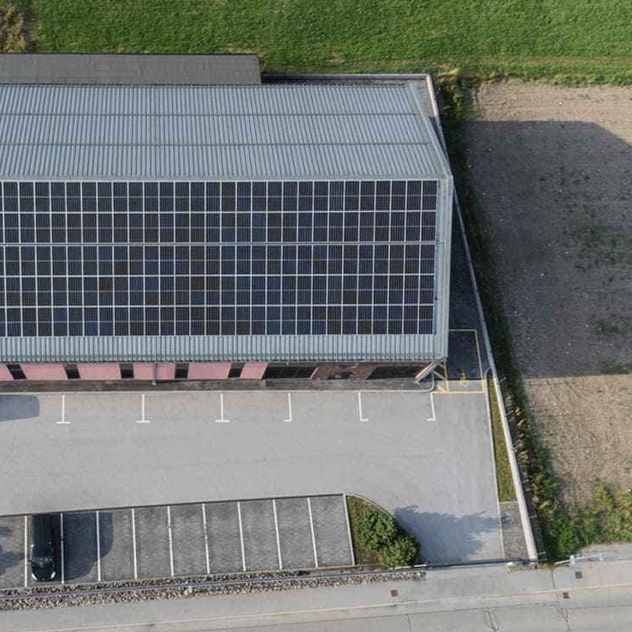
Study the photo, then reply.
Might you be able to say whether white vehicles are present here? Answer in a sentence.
No, the picture doesn't show any white vehicle.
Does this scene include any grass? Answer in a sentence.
Yes, the picture does contain grass.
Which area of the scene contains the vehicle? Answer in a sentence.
The vehicle appears toward the bottom left of the photo.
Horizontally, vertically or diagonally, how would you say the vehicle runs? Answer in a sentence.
The vehicle is laid out vertically.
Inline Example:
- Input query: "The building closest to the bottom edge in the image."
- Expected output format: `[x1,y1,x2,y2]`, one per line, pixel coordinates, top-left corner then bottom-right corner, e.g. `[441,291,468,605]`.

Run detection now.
[0,82,452,383]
